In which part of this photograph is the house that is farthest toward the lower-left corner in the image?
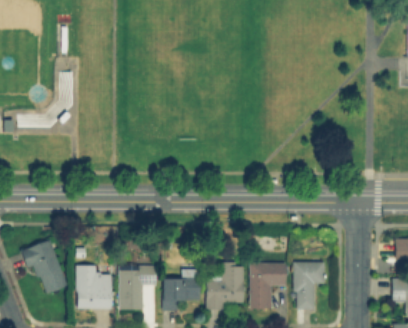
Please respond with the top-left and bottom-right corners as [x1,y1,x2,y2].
[21,242,67,292]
